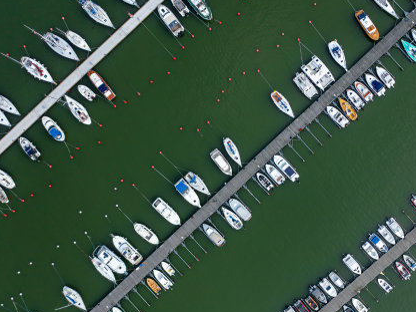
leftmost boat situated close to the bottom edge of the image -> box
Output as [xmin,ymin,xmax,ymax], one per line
[55,286,93,310]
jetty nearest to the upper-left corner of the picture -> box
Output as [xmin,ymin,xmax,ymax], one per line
[0,0,167,157]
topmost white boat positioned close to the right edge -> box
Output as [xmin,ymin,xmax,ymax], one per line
[374,0,405,25]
